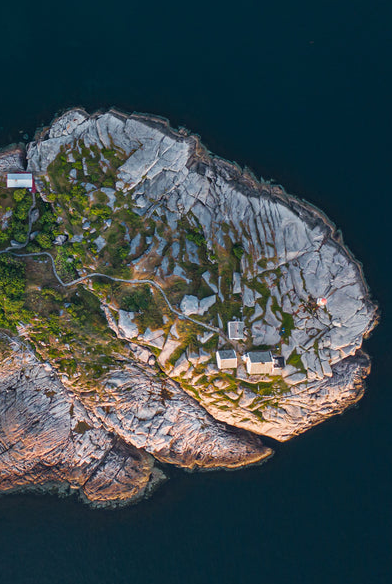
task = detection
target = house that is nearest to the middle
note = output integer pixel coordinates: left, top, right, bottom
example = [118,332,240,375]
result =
[225,320,243,340]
